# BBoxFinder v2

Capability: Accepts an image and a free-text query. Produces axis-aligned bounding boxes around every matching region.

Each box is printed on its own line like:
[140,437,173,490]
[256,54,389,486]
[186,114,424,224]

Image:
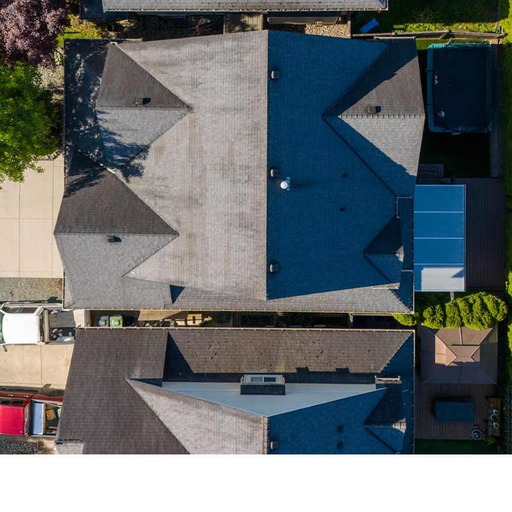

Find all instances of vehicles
[0,302,74,343]
[0,388,66,432]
